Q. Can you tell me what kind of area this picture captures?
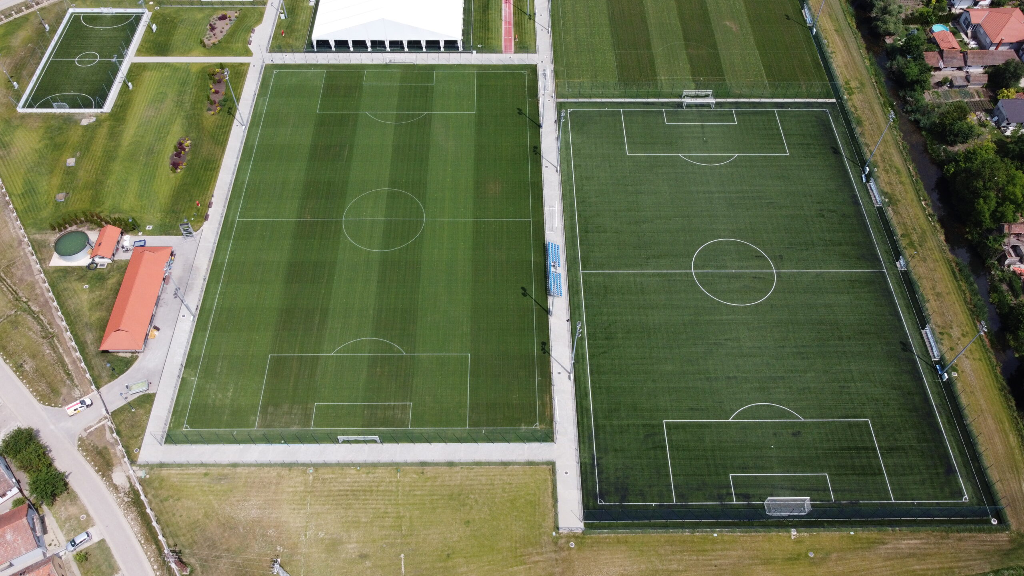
sports ground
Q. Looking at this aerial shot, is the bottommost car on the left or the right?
left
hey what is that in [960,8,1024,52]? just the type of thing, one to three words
house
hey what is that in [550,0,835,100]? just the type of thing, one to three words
soccer field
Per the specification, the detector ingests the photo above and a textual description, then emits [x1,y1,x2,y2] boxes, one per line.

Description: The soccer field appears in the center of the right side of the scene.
[557,101,991,519]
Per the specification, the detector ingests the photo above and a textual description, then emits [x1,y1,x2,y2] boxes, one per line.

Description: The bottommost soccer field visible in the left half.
[164,63,553,444]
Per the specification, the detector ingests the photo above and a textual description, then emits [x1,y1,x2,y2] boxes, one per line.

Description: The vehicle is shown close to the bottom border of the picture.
[63,532,91,552]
